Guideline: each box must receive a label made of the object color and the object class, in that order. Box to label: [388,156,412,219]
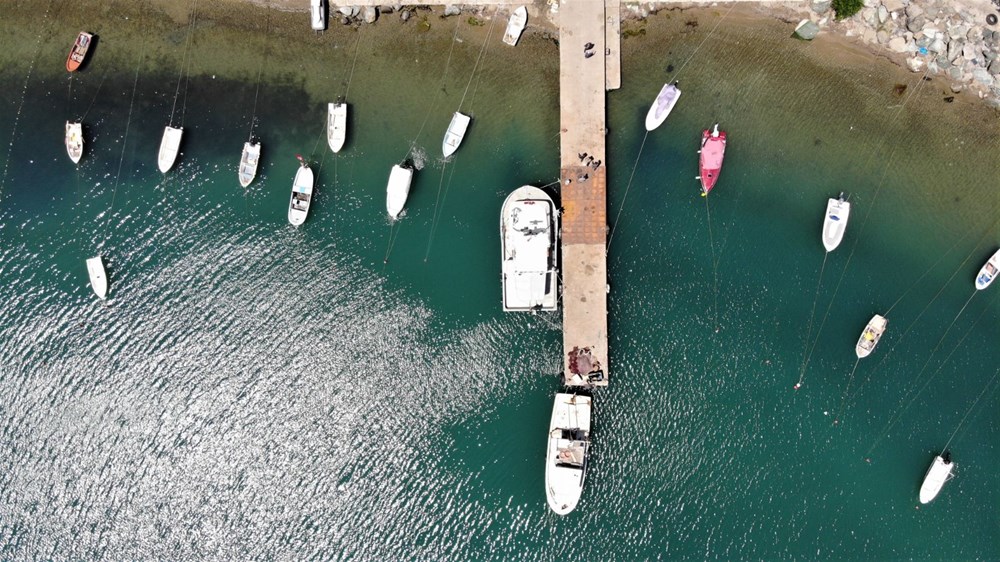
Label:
white boat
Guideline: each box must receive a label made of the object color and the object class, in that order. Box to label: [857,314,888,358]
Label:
white boat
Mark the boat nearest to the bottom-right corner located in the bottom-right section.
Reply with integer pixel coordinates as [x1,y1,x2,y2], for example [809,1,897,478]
[919,448,953,504]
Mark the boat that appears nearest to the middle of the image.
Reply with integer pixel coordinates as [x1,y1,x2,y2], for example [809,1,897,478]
[500,185,562,314]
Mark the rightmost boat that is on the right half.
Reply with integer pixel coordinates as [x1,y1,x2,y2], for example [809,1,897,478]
[975,250,1000,290]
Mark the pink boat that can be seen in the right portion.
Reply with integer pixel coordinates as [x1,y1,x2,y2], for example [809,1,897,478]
[698,119,725,194]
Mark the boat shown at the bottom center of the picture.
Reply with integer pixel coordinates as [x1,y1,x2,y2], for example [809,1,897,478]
[545,392,593,516]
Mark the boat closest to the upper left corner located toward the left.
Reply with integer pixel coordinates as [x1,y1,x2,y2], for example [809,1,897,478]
[68,31,94,71]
